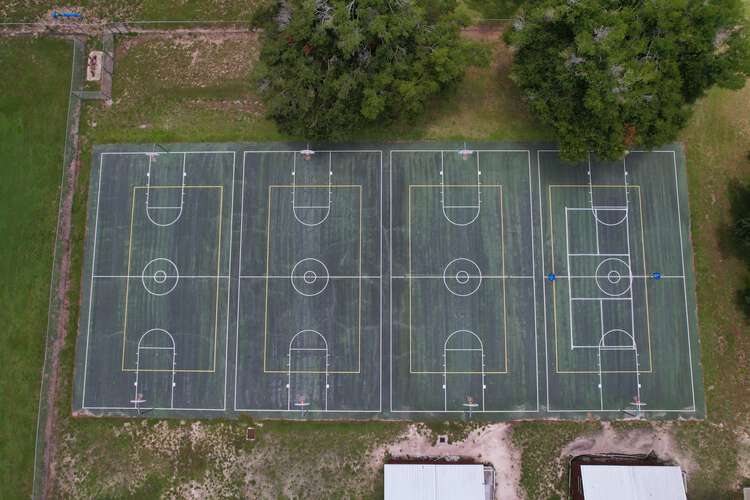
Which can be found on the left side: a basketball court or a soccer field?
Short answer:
basketball court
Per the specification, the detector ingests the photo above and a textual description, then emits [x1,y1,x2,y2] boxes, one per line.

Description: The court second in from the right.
[387,149,543,414]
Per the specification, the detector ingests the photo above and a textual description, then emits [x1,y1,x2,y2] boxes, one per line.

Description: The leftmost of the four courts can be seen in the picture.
[77,150,240,411]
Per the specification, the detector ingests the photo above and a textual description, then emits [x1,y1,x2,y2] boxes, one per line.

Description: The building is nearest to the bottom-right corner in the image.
[567,453,683,500]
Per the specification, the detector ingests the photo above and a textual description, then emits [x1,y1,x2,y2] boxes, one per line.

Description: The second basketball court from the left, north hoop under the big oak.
[231,149,385,412]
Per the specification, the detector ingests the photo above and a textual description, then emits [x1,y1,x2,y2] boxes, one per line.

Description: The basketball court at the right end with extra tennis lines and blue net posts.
[532,149,700,414]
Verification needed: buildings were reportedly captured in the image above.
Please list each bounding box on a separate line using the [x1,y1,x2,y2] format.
[567,453,683,500]
[385,456,494,500]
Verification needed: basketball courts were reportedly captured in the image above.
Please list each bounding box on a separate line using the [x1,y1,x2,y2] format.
[387,149,543,414]
[77,150,240,411]
[532,149,700,414]
[231,149,385,412]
